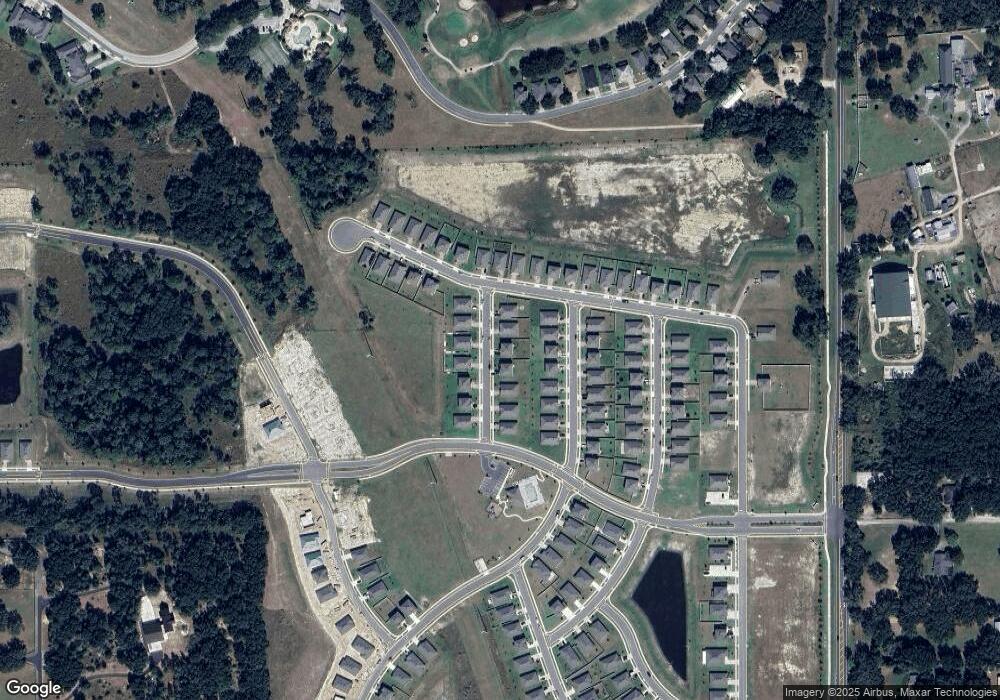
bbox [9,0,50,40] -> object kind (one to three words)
house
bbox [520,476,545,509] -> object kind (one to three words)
swimming pool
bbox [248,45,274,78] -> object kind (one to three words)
tennis court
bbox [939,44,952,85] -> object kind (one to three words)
building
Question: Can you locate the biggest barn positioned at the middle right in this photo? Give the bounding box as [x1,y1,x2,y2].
[874,272,912,319]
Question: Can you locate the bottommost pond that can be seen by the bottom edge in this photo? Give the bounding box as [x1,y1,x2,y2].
[633,550,687,679]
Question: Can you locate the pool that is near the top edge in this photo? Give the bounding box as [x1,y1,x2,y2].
[286,18,321,59]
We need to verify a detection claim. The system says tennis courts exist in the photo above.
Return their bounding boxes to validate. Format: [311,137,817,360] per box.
[248,45,274,78]
[262,34,292,65]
